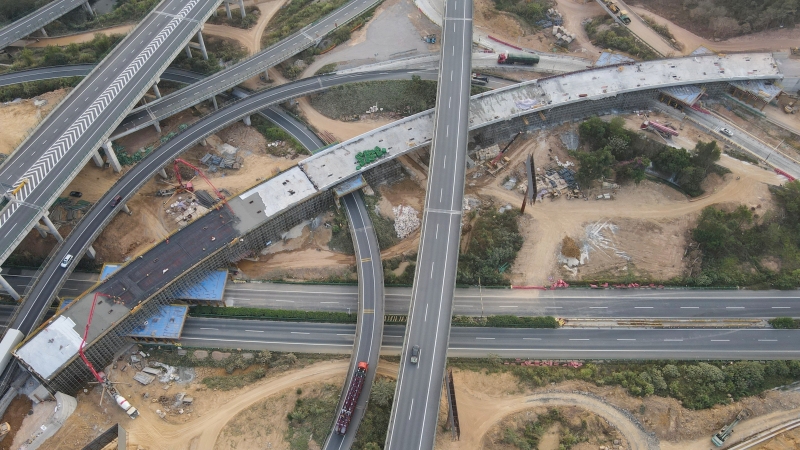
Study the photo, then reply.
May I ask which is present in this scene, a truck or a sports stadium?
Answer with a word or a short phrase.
truck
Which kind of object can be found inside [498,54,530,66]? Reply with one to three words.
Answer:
vehicle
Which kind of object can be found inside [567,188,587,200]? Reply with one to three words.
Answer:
vehicle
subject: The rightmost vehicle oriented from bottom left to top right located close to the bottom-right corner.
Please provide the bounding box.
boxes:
[711,415,744,441]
